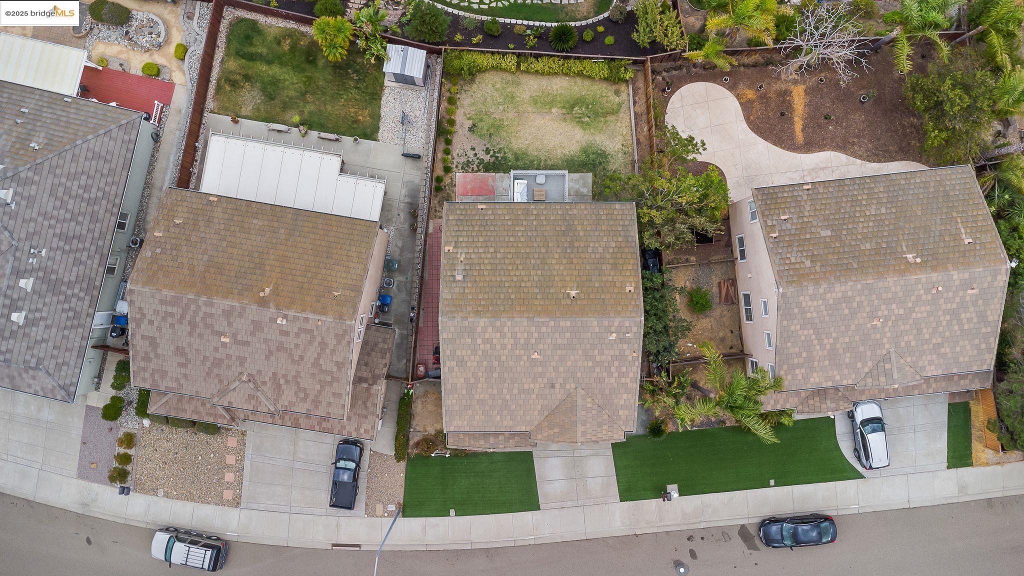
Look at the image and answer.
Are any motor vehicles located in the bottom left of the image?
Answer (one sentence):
Yes, looking in the bottom left of the image, one can make out a motor vehicle.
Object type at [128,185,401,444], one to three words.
house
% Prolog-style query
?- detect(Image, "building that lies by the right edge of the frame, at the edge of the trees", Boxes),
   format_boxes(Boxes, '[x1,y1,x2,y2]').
[733,162,1024,414]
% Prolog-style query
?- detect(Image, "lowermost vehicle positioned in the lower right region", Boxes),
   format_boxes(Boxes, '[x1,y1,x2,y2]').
[757,512,836,552]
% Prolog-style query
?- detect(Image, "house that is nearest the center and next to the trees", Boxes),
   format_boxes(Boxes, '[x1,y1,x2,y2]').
[440,200,644,450]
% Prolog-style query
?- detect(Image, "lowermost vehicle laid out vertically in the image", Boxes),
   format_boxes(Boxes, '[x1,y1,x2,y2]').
[327,438,364,514]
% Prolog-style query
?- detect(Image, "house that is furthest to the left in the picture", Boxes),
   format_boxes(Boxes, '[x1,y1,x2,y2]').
[0,79,158,406]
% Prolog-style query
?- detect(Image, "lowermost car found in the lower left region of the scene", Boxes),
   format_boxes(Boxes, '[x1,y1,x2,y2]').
[144,527,229,576]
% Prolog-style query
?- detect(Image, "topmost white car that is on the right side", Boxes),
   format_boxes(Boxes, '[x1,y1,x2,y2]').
[848,402,893,471]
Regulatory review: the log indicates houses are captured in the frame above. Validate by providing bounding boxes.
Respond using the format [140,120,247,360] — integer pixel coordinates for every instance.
[733,162,1024,414]
[440,200,644,450]
[0,79,158,406]
[128,185,401,444]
